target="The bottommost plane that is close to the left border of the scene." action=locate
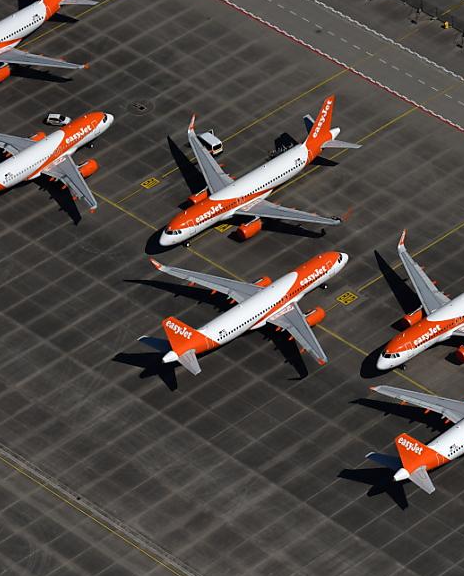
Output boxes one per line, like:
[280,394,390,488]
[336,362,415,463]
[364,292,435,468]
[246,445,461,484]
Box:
[0,112,116,211]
